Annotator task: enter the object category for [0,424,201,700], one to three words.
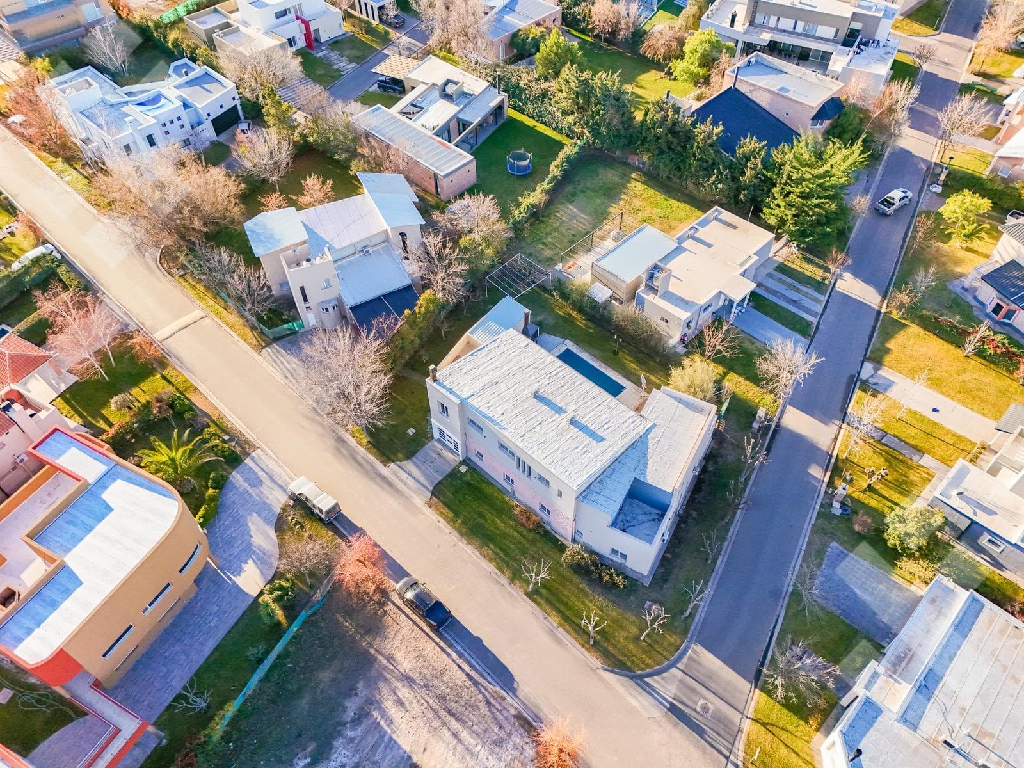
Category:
house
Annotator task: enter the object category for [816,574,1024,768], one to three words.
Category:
house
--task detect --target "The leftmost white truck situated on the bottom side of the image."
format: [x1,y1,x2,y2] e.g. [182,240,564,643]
[288,475,342,527]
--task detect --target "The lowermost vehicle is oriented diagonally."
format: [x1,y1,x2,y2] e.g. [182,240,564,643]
[391,573,455,636]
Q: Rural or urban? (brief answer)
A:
urban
